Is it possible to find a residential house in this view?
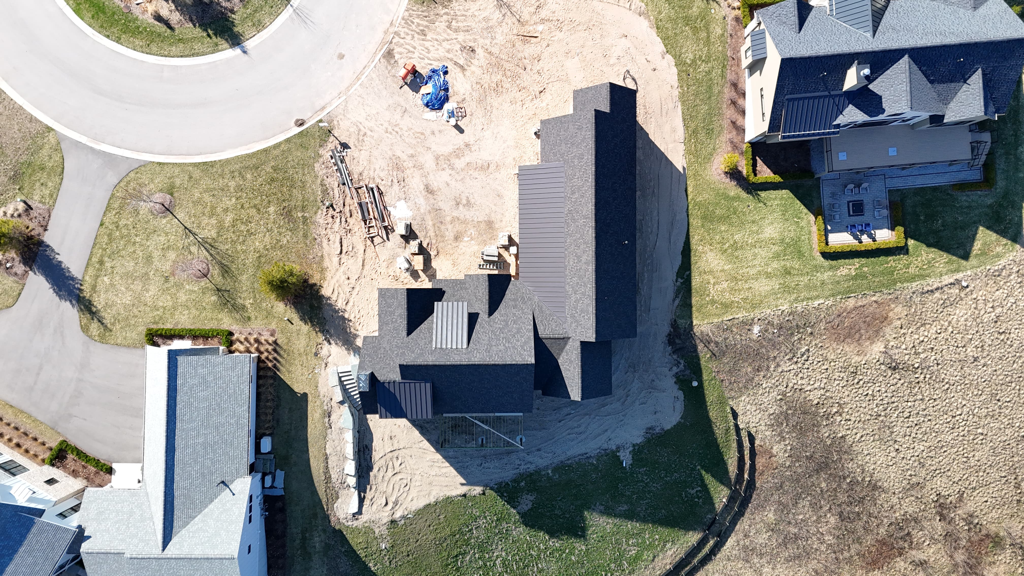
Yes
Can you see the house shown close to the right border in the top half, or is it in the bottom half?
top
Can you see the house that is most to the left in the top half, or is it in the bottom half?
bottom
